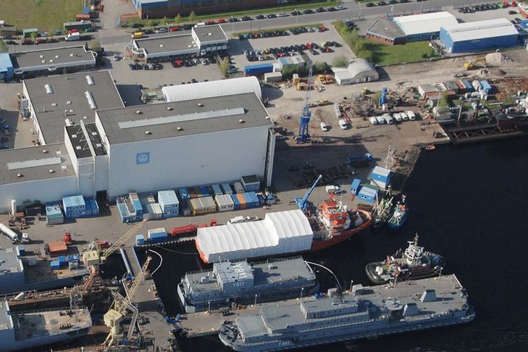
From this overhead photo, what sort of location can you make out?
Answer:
port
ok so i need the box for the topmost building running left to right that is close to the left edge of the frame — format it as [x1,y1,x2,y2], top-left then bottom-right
[10,45,96,80]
